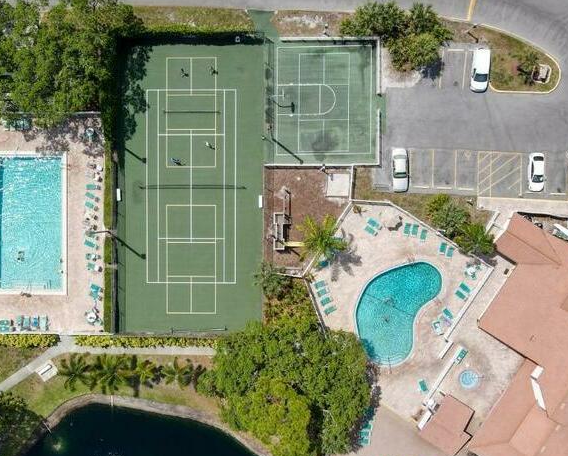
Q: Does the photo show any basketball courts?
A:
Yes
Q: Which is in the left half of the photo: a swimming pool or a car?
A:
swimming pool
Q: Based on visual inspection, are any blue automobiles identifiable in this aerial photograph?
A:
No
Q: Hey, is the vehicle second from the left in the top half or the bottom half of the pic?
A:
top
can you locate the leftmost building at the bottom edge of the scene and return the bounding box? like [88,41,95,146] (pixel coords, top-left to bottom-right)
[421,394,474,454]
